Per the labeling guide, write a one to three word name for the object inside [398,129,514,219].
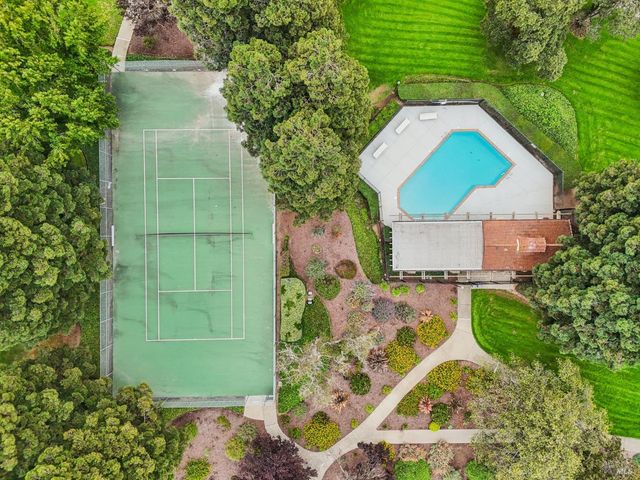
swimming pool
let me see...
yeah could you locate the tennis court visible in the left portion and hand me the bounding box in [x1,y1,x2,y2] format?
[111,71,274,397]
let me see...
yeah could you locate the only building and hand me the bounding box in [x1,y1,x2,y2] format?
[388,211,577,281]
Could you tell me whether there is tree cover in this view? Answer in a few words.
Yes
